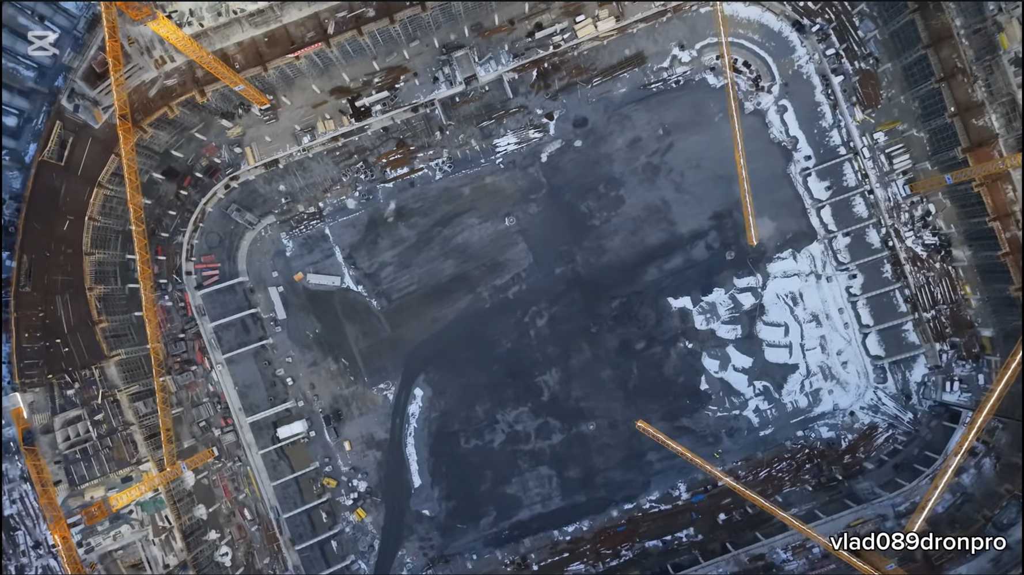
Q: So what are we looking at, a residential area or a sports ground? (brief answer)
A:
sports ground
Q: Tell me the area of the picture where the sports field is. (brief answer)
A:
center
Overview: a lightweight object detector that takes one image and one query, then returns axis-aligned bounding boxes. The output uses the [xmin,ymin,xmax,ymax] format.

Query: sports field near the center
[293,83,815,556]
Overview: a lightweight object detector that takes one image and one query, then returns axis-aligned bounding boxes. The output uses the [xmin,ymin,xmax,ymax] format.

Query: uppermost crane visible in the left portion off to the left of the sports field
[106,0,278,474]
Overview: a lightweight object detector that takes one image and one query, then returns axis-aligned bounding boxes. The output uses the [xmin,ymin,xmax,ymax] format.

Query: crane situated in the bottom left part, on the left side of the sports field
[13,395,226,575]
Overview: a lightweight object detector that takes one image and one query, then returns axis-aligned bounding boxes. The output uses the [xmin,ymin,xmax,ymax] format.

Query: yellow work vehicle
[321,476,339,489]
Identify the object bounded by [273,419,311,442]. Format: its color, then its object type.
white truck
